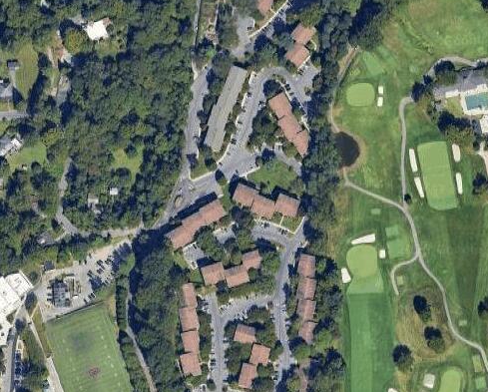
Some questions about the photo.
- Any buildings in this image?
Yes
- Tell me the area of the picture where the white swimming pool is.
top right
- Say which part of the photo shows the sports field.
bottom left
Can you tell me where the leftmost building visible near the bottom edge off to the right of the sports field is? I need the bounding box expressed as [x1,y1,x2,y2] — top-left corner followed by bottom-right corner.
[178,283,202,375]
